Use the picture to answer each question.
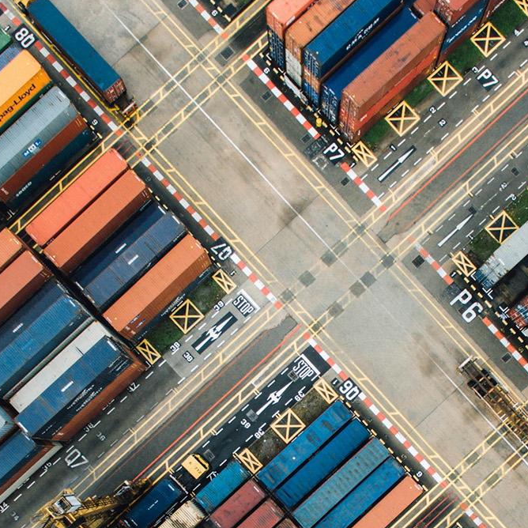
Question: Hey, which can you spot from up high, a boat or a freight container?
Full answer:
There is a freight container in the scene.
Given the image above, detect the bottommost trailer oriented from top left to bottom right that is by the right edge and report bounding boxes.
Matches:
[457,355,528,447]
